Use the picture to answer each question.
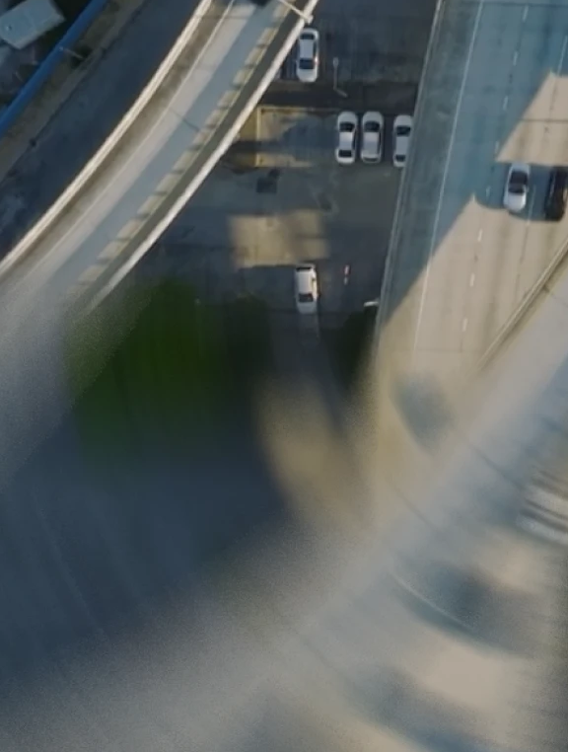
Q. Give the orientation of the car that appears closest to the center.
vertically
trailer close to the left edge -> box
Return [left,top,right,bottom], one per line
[0,0,70,50]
